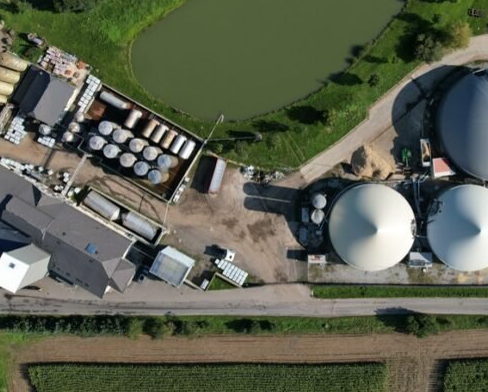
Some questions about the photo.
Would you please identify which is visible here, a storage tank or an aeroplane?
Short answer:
storage tank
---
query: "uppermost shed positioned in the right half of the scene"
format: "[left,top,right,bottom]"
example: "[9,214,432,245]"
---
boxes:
[431,157,452,178]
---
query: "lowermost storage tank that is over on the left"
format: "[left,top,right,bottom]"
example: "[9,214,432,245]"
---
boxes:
[122,210,158,240]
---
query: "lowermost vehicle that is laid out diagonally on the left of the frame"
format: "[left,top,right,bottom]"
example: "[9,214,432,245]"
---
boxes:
[135,269,150,284]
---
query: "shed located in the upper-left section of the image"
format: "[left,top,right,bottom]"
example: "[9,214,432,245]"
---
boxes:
[21,66,81,127]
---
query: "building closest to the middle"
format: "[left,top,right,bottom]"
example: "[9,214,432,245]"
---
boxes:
[150,245,194,287]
